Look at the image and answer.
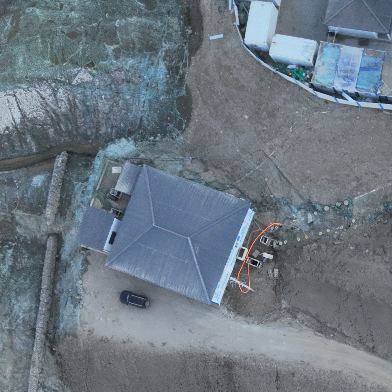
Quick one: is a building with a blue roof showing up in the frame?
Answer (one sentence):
Yes, a building with a blue roof appears in the view.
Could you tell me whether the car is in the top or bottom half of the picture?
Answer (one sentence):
Seen from above, the car lies in the bottom half of the view.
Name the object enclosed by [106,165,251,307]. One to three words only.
house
